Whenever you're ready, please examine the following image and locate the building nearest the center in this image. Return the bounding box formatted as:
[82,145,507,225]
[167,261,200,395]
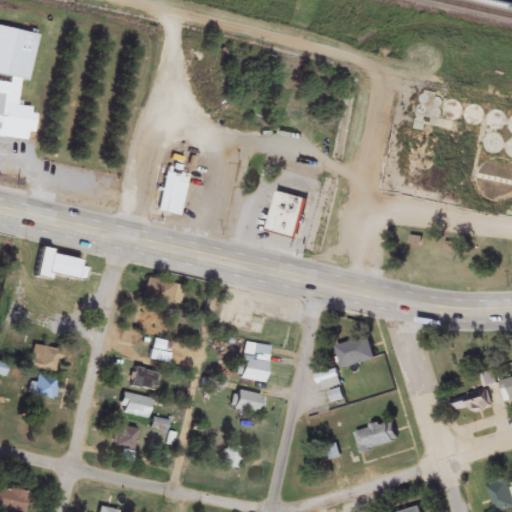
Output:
[264,190,306,238]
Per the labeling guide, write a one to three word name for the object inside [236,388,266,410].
house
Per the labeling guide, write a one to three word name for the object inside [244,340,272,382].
house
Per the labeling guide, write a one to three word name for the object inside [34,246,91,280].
building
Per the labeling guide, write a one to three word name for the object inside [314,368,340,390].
building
